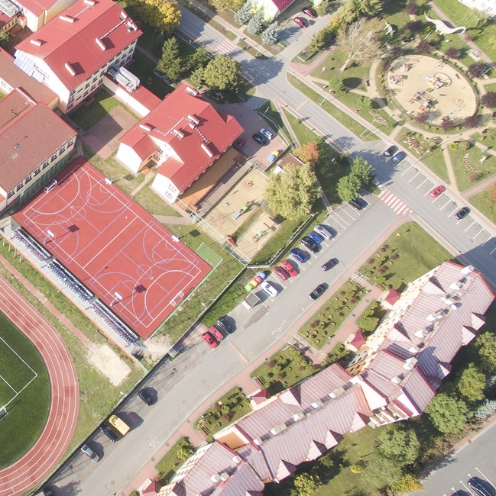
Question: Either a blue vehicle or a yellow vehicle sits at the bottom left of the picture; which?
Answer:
yellow vehicle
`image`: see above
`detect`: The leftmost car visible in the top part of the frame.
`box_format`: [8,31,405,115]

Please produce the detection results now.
[233,137,247,149]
